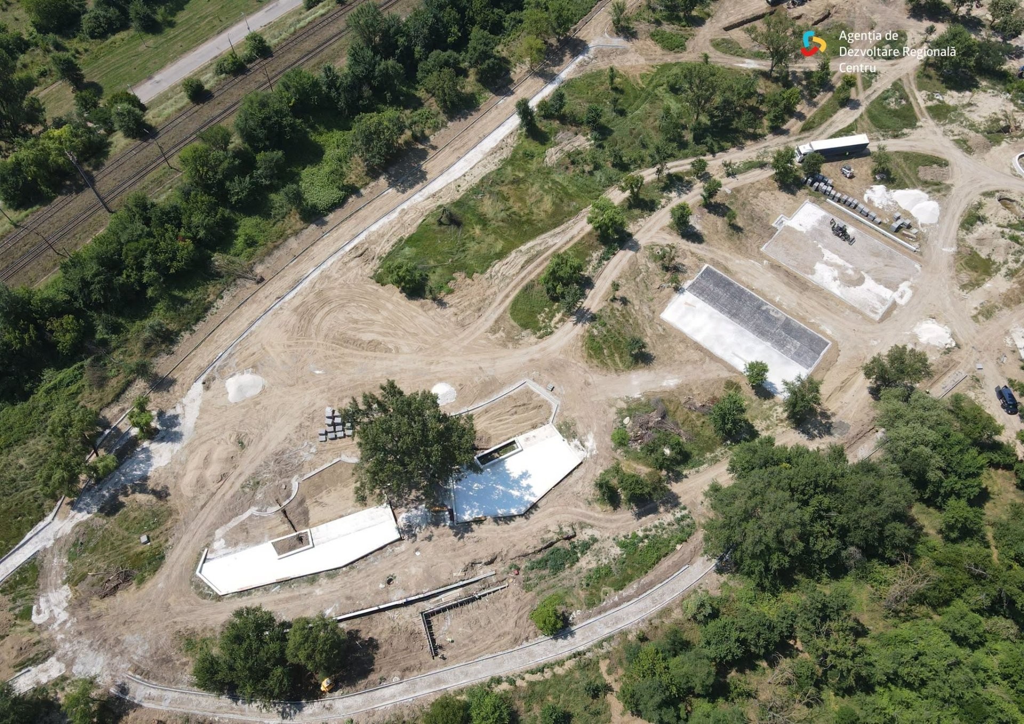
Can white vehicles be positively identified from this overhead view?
Yes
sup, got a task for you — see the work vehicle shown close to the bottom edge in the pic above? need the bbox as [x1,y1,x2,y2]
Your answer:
[315,672,341,694]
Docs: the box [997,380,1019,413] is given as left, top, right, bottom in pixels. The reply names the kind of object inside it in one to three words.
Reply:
car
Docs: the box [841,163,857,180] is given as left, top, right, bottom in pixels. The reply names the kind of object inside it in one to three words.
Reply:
work vehicle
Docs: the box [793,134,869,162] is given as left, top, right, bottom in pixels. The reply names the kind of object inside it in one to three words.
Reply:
truck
